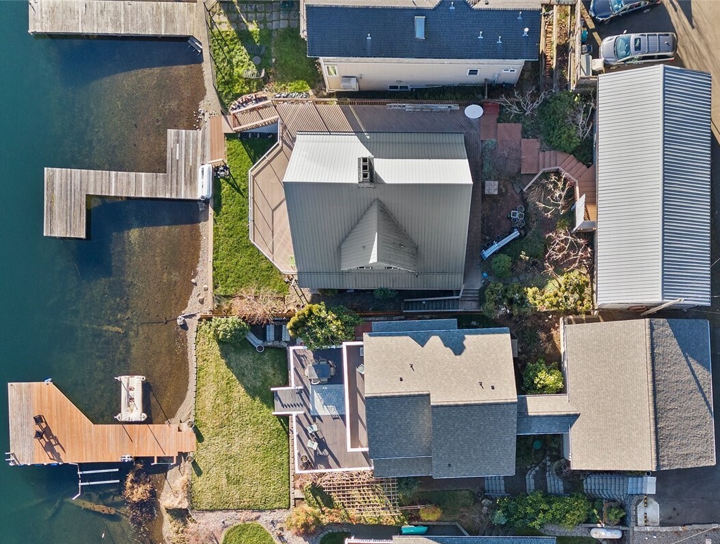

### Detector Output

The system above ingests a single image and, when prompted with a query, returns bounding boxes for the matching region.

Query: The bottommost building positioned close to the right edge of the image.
[563,318,717,472]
